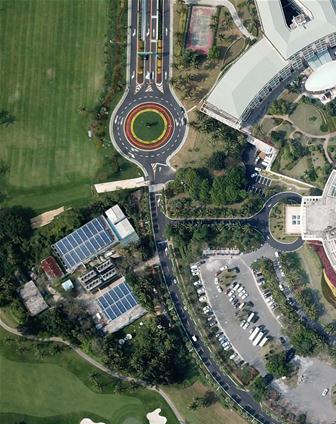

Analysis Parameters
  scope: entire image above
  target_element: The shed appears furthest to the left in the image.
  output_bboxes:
[20,281,53,314]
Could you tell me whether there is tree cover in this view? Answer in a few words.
Yes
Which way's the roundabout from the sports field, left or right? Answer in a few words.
right of it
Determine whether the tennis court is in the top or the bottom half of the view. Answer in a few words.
top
